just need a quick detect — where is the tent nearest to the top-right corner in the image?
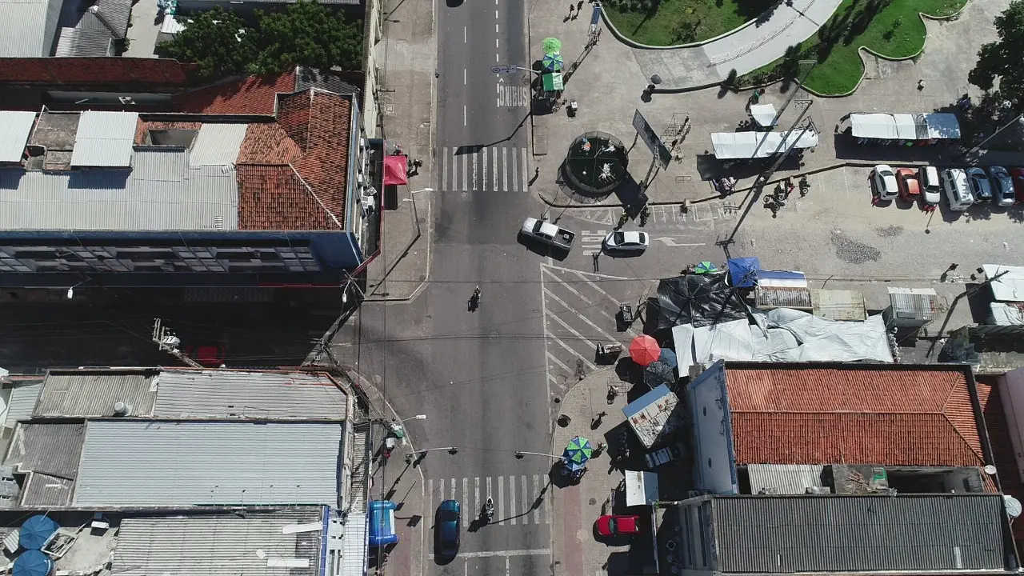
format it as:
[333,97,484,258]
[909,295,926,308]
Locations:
[842,112,961,149]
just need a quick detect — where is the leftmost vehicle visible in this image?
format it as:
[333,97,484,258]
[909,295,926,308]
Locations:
[185,343,232,367]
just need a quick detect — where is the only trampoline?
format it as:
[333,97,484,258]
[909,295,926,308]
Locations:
[558,132,630,203]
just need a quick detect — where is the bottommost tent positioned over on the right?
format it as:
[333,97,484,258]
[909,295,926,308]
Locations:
[621,470,660,508]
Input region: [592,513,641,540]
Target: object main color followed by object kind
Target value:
red car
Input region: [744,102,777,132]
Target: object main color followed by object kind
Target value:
white tent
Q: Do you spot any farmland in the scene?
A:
No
